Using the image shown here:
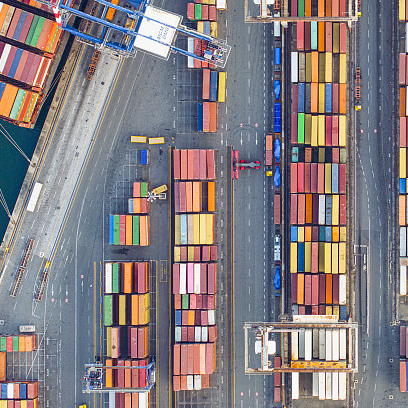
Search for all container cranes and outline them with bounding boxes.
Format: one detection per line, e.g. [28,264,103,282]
[30,0,237,73]
[245,310,359,374]
[83,355,160,394]
[245,0,359,34]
